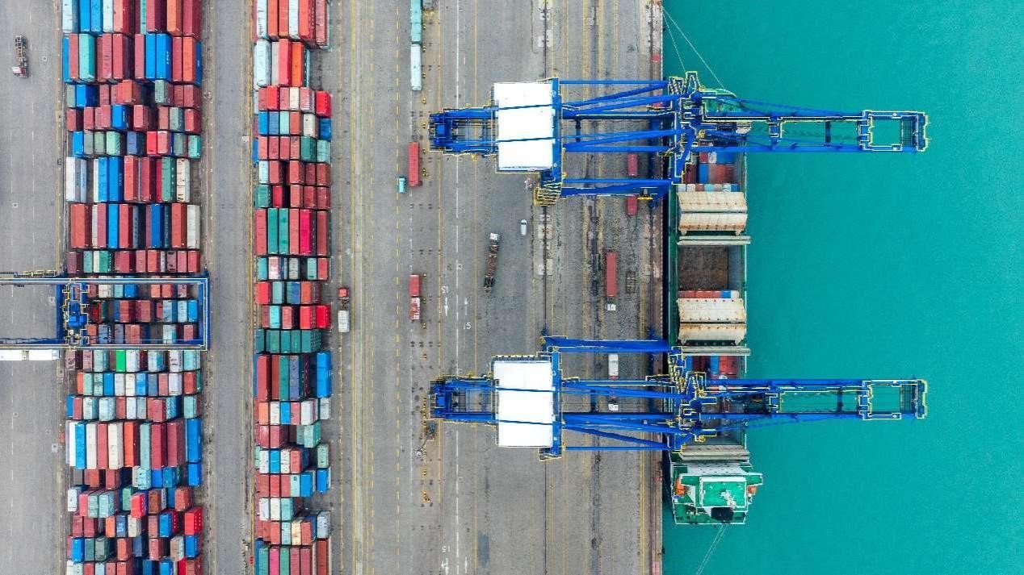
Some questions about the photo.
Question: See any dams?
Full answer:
No, no dam can be seen from above.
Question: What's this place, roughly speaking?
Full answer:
What you see here is a port.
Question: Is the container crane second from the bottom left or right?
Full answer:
The container crane second from the bottom sits on the left side.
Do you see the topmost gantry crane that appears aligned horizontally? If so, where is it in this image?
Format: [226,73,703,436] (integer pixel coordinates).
[428,62,929,210]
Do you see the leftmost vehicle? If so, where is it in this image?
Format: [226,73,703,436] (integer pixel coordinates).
[16,35,30,79]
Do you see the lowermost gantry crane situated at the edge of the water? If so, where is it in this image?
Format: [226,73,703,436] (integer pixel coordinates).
[428,332,929,462]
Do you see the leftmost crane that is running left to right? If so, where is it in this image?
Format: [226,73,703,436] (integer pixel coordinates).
[0,265,212,360]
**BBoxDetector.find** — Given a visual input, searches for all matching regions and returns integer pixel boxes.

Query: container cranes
[0,265,212,360]
[428,332,929,462]
[428,62,929,210]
